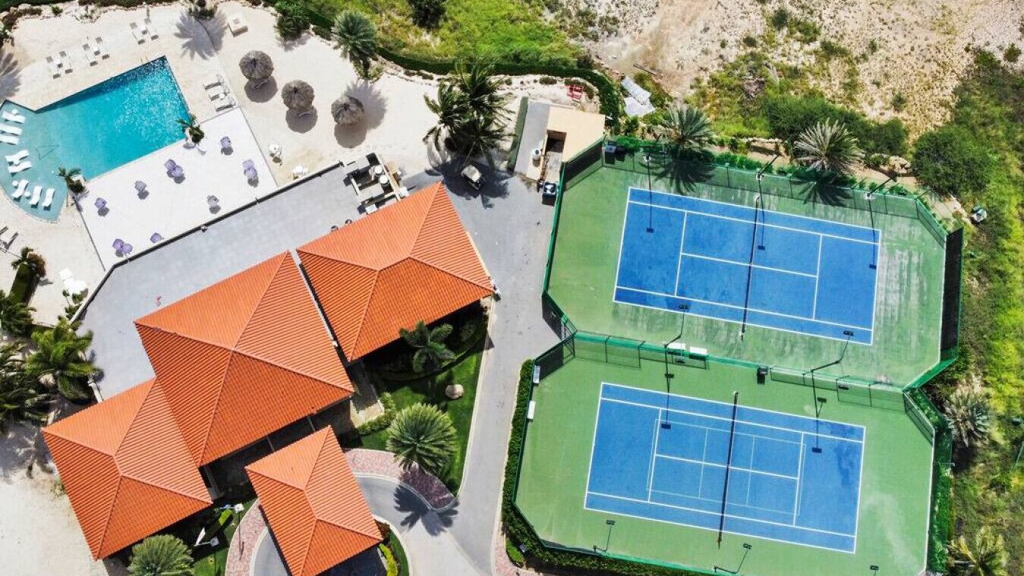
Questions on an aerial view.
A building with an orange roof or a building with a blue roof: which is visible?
building with an orange roof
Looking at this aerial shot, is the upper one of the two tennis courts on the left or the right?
right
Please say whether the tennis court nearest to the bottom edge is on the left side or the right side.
right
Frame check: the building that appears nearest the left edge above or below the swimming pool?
below it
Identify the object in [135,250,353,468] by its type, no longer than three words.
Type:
building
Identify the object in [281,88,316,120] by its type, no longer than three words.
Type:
umbrella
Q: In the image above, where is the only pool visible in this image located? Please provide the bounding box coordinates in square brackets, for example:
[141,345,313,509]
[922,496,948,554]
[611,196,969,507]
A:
[0,54,190,221]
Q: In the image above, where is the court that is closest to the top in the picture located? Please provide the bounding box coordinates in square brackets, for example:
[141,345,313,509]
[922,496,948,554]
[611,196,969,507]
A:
[547,146,944,389]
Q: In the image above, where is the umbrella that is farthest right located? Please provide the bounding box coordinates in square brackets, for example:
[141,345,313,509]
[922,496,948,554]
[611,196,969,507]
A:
[331,101,367,135]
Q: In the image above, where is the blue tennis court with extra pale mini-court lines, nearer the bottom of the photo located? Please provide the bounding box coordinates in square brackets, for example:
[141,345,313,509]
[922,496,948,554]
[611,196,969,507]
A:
[517,336,934,576]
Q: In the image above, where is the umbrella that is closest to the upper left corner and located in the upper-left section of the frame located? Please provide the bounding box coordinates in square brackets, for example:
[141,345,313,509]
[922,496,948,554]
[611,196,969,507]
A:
[238,58,275,92]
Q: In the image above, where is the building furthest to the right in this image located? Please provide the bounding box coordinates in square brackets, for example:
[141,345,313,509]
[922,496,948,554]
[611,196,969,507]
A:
[537,106,605,185]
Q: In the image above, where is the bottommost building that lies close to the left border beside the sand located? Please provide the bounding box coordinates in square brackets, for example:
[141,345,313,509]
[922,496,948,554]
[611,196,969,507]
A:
[43,375,215,560]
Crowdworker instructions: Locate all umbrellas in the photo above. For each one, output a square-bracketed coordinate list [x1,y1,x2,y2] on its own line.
[331,101,367,135]
[238,58,275,92]
[281,88,316,120]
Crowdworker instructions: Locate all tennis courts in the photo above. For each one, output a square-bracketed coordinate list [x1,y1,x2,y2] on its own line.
[517,336,934,576]
[547,146,944,389]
